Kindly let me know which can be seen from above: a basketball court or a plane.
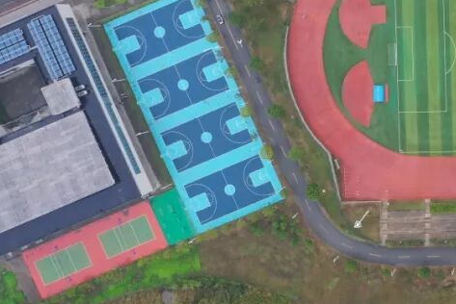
basketball court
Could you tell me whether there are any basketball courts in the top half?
Yes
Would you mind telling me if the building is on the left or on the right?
left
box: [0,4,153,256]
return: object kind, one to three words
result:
building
